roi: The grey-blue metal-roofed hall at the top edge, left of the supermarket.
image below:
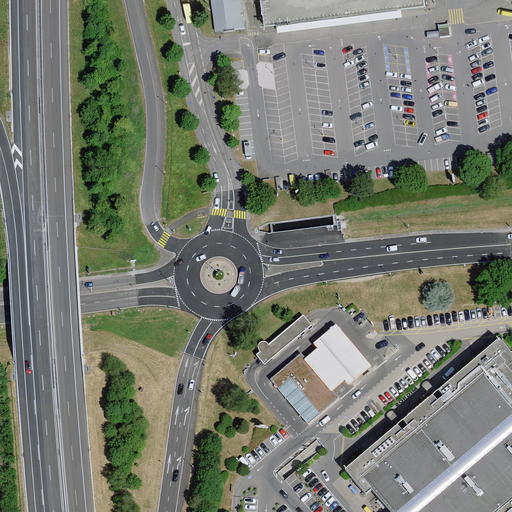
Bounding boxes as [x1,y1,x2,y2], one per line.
[213,0,244,34]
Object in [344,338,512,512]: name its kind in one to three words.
building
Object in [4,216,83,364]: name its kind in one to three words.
overpass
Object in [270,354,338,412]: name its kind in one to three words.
building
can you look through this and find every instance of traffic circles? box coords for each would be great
[136,186,264,360]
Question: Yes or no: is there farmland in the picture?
No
